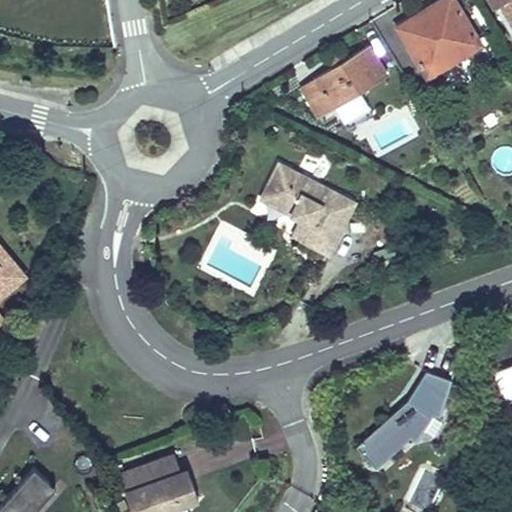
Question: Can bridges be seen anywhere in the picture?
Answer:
No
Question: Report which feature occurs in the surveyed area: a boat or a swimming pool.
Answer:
swimming pool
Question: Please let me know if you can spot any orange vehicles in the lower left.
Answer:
No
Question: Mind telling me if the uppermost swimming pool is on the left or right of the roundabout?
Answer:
on its right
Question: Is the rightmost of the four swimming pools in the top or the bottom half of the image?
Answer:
top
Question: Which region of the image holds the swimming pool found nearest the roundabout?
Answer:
center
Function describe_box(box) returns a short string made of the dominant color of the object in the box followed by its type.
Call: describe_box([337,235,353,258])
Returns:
white car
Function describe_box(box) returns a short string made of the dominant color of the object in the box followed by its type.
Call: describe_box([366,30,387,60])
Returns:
white vehicle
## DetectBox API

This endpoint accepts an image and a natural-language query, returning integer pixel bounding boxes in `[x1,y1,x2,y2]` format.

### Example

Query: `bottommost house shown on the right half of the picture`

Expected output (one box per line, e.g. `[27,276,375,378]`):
[398,460,440,512]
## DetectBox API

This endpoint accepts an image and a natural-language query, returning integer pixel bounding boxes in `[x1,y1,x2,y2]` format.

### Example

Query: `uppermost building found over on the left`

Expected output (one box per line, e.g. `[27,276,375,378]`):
[0,244,29,308]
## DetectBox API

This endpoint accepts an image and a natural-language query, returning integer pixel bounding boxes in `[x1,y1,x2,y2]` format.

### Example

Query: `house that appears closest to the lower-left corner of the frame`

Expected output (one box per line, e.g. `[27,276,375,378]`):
[0,474,54,512]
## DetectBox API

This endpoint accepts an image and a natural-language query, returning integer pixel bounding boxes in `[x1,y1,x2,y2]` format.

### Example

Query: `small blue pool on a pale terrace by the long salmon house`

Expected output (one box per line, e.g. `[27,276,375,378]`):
[352,106,420,157]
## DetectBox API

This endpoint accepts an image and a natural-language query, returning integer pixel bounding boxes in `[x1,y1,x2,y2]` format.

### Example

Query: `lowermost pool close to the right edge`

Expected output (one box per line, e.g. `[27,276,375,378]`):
[492,144,512,176]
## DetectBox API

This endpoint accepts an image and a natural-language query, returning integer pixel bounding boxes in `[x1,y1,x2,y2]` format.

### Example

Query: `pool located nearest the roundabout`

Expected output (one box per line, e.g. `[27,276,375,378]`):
[200,221,276,296]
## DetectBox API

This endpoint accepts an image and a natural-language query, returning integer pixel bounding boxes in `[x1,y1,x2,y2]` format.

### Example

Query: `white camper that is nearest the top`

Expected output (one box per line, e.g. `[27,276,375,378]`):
[472,4,488,29]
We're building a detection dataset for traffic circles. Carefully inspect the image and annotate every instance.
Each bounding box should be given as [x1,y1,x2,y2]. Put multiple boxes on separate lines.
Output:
[91,73,220,206]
